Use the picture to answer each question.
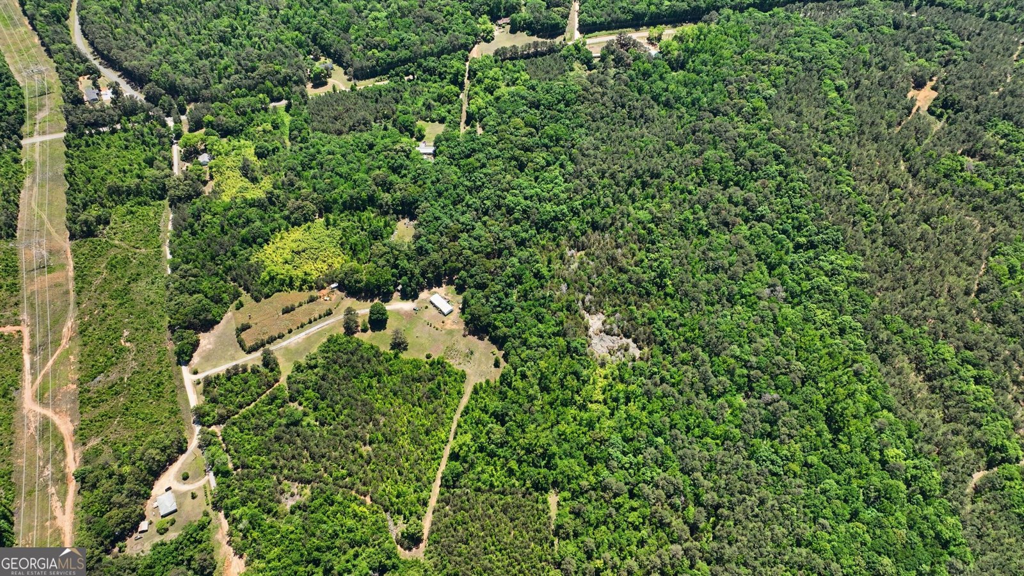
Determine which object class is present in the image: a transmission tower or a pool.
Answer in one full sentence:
The image shows a transmission tower.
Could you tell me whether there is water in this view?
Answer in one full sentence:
No, there's no water in this view.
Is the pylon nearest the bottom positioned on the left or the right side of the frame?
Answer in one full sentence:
The pylon nearest the bottom sits on the left side.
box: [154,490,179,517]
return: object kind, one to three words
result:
house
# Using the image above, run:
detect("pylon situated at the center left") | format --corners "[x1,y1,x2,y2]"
[14,242,53,268]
